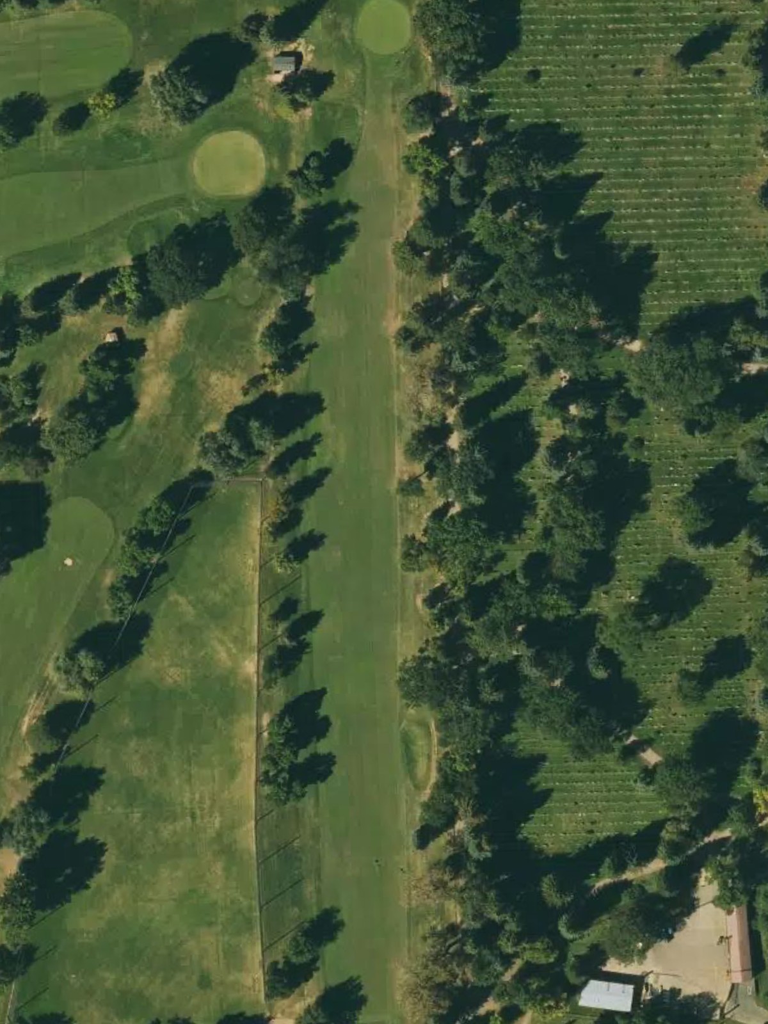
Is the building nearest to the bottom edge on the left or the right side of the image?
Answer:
right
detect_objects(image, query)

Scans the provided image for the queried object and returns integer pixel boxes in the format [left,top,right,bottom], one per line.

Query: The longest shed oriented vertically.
[727,908,752,984]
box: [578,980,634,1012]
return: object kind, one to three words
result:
building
